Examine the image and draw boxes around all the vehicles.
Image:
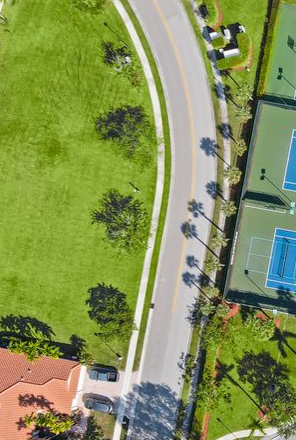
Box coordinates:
[82,398,111,413]
[86,369,118,382]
